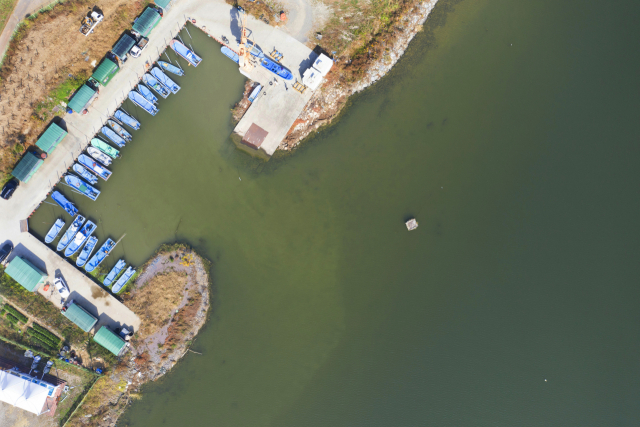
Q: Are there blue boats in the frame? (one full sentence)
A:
Yes, the picture does show a blue boat.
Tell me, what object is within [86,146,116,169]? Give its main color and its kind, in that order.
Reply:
white boat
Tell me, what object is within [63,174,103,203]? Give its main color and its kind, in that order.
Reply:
blue boat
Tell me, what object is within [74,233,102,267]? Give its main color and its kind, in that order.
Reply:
blue boat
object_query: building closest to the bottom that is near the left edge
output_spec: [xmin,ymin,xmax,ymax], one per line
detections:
[0,354,66,416]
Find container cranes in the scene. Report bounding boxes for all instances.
[236,11,256,81]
